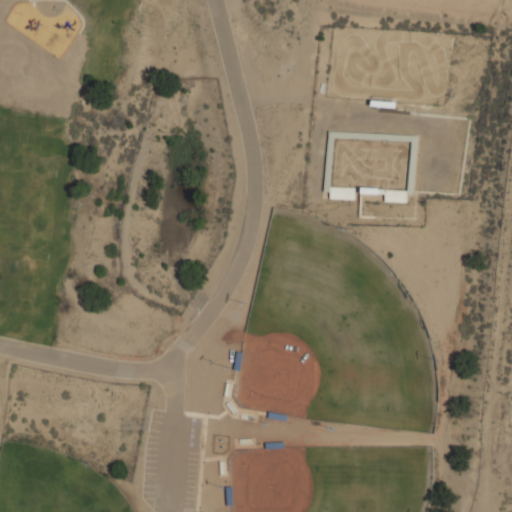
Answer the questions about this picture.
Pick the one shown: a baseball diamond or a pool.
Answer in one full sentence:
I can see a baseball diamond in this picture.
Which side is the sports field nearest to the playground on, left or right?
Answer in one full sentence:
The sports field nearest to the playground appears in the left half of the scene.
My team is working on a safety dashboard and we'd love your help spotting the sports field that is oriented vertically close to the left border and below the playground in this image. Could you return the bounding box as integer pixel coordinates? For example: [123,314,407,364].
[0,106,72,346]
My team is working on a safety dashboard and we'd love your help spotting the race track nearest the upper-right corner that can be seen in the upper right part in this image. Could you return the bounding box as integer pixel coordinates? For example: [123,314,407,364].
[326,28,454,105]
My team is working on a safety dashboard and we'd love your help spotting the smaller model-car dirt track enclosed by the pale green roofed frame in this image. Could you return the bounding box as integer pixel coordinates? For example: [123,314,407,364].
[330,139,410,191]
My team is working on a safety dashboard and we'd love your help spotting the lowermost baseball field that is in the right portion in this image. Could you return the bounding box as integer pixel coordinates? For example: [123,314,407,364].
[232,446,432,512]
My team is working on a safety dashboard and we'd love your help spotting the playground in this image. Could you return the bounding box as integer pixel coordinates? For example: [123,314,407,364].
[6,2,81,58]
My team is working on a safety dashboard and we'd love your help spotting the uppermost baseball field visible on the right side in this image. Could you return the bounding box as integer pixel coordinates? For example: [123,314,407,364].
[237,208,437,431]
